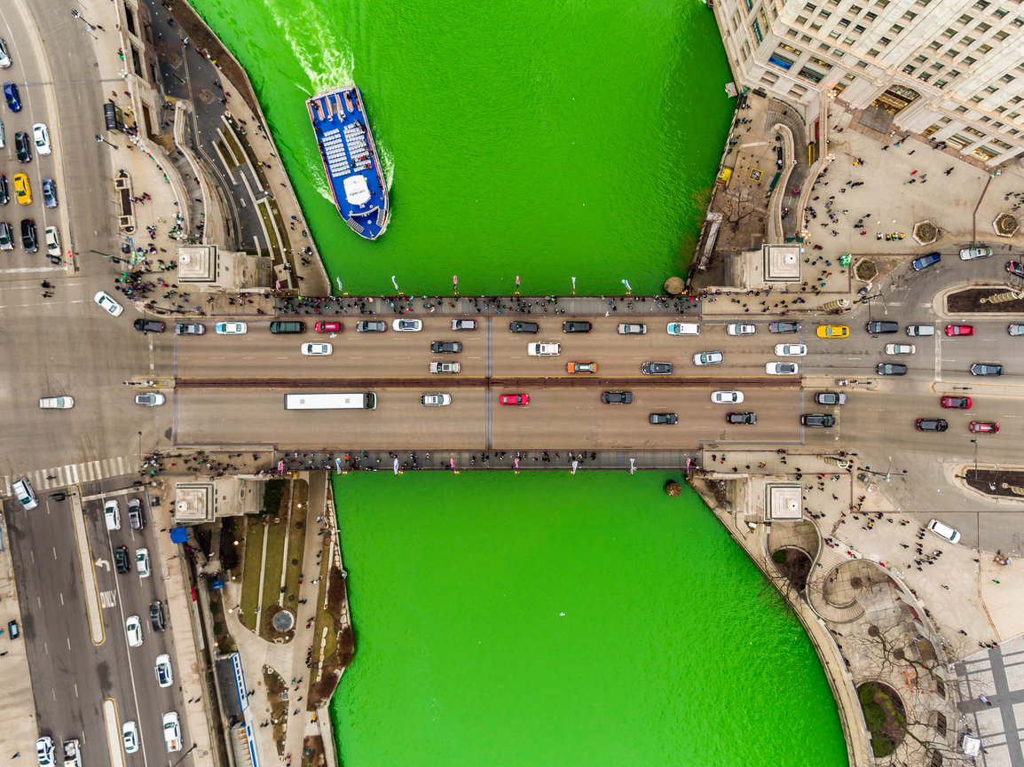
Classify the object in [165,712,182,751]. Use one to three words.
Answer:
vehicle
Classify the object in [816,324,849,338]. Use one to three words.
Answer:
car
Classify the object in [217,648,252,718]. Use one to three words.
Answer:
building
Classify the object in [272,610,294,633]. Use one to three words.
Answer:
fountain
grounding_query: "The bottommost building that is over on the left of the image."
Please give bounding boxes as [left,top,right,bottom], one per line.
[231,706,265,767]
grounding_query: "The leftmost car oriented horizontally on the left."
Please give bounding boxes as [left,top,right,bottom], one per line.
[40,395,74,410]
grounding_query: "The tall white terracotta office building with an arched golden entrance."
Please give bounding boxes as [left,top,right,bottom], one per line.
[722,0,1024,172]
